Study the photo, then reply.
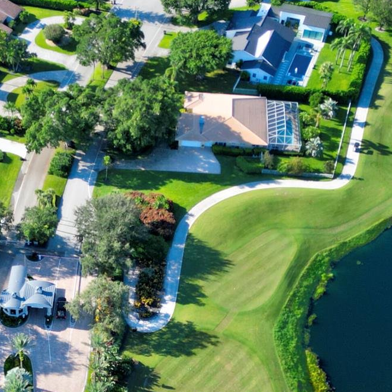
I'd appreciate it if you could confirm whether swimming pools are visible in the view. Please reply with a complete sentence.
Yes, you can see a swimming pool in this photo.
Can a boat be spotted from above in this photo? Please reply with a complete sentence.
No, the scene contains no boat.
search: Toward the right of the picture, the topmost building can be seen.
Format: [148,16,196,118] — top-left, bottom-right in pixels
[226,4,333,86]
